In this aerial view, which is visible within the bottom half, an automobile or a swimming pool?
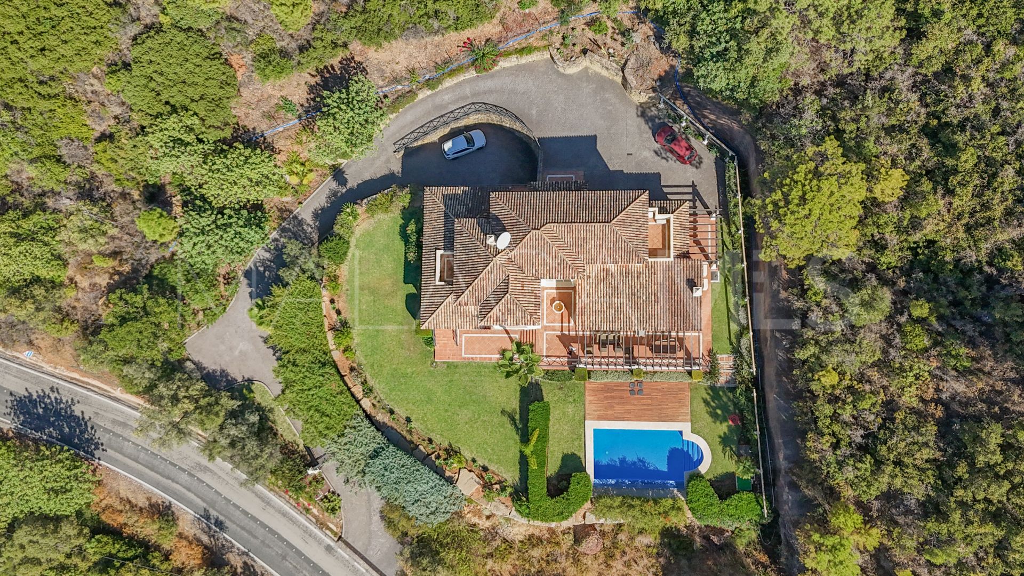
swimming pool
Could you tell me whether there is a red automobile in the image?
Yes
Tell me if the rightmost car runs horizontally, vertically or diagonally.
diagonally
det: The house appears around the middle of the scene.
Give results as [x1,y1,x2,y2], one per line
[419,180,703,335]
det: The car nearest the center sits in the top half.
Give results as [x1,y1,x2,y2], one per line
[438,127,489,163]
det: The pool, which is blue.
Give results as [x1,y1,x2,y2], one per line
[585,421,711,497]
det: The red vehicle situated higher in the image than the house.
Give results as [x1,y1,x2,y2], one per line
[652,124,700,166]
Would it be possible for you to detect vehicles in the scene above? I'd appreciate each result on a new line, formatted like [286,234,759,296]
[438,127,489,163]
[652,124,700,166]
